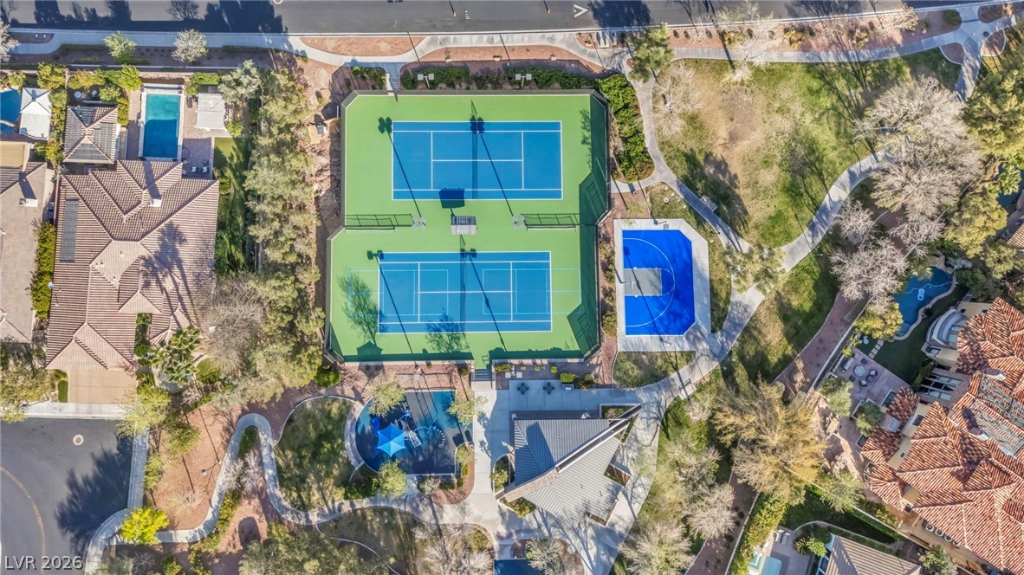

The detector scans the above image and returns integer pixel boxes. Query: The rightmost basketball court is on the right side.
[614,219,714,351]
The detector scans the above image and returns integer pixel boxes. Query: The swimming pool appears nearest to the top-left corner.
[0,87,22,131]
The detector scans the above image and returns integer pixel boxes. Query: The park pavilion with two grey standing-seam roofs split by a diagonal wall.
[503,404,641,528]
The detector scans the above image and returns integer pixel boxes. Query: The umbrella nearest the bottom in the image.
[376,422,406,456]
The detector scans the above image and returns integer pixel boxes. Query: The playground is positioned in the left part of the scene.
[344,390,457,477]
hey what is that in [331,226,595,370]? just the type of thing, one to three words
tennis court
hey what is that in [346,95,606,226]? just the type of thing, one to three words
tennis court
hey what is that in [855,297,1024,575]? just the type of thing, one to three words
house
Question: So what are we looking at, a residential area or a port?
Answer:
residential area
